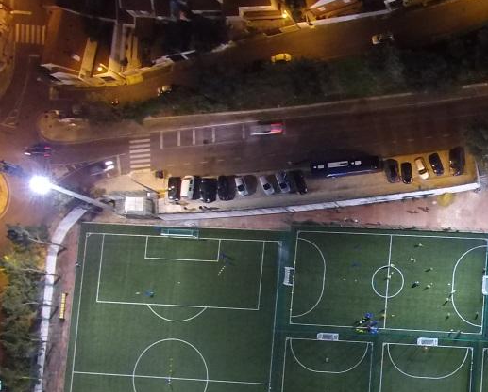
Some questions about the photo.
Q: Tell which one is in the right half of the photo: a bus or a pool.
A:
bus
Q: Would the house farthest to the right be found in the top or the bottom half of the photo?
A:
top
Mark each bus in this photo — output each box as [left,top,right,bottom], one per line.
[305,153,380,176]
[310,153,476,198]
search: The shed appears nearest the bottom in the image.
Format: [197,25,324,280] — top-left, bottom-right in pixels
[111,191,159,216]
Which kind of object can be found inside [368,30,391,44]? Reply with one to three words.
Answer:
car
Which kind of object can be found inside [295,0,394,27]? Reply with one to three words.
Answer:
house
